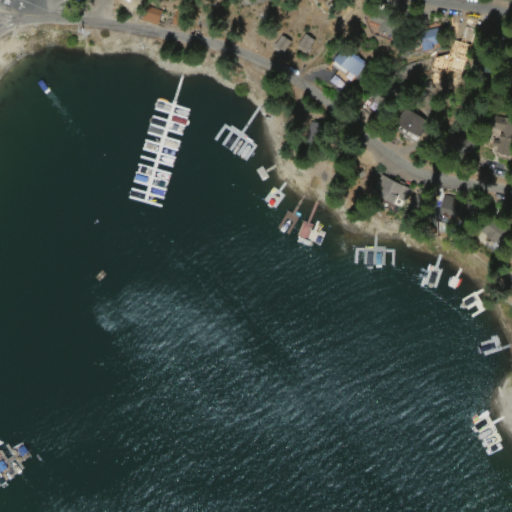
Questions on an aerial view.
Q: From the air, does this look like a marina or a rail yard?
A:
marina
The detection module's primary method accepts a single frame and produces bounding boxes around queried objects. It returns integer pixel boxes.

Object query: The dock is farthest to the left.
[0,444,32,481]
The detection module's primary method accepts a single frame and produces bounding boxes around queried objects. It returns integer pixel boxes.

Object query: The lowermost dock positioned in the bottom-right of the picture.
[474,410,505,455]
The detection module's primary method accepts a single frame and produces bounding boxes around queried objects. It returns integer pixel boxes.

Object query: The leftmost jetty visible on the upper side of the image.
[129,74,190,208]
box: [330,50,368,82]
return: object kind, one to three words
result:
house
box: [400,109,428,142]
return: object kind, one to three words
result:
house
